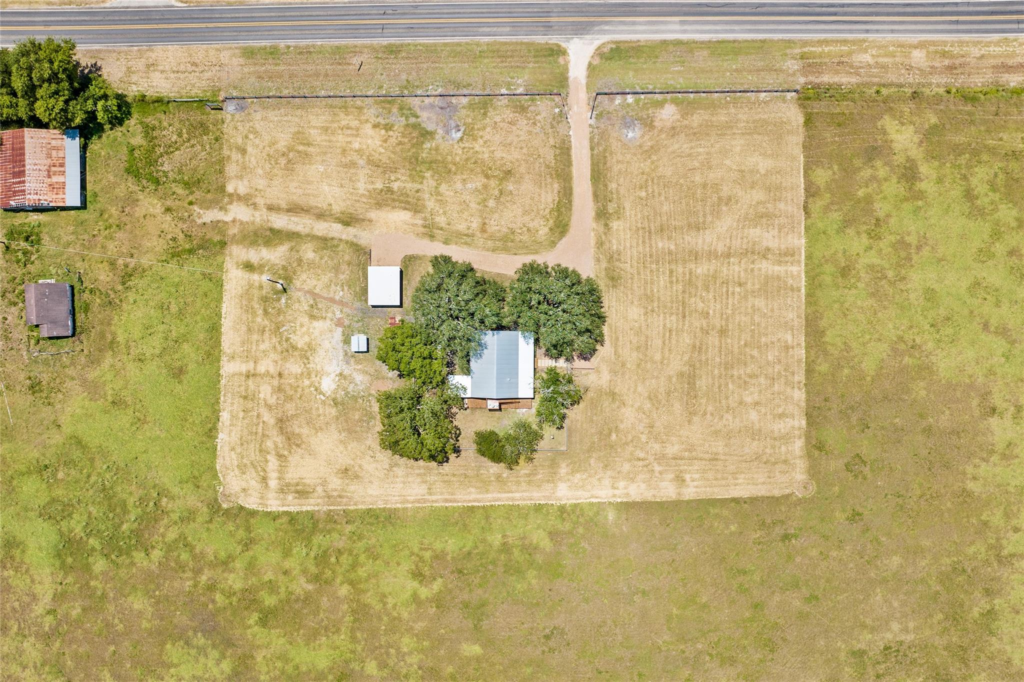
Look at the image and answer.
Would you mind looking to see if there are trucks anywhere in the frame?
No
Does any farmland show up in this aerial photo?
Yes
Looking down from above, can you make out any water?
No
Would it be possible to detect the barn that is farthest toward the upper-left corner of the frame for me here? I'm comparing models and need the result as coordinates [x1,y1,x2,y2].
[0,129,91,211]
